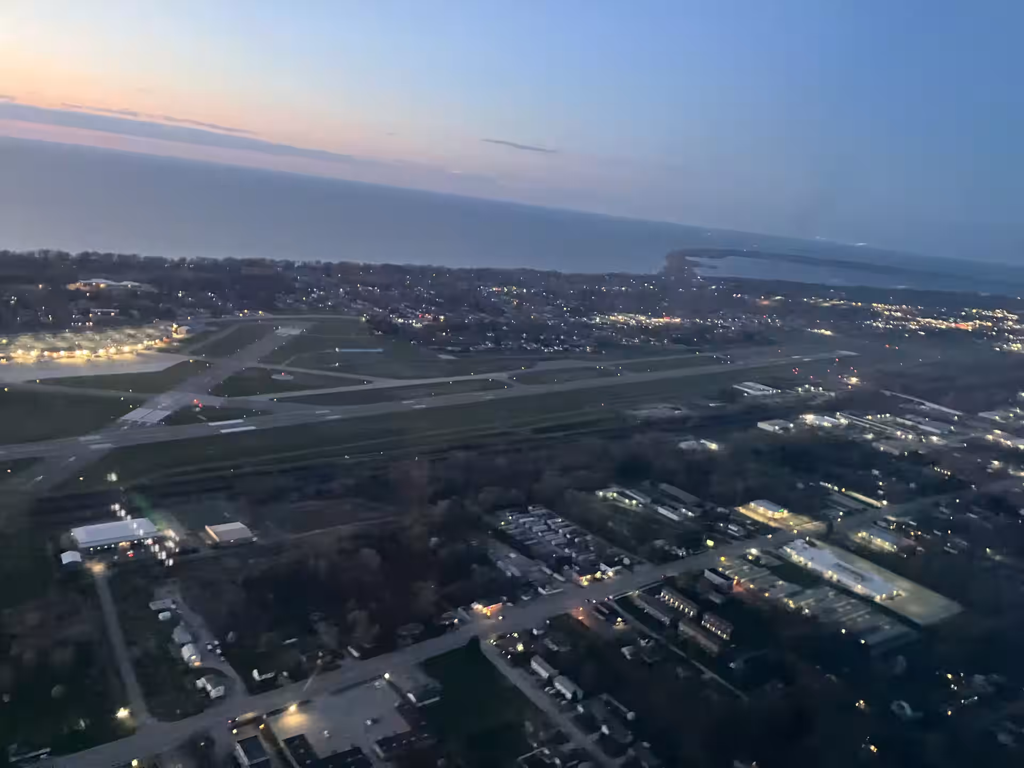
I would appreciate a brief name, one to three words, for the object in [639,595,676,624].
building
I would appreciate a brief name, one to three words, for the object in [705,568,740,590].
building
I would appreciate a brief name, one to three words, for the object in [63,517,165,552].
hangar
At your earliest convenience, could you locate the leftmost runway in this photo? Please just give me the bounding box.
[0,328,304,503]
